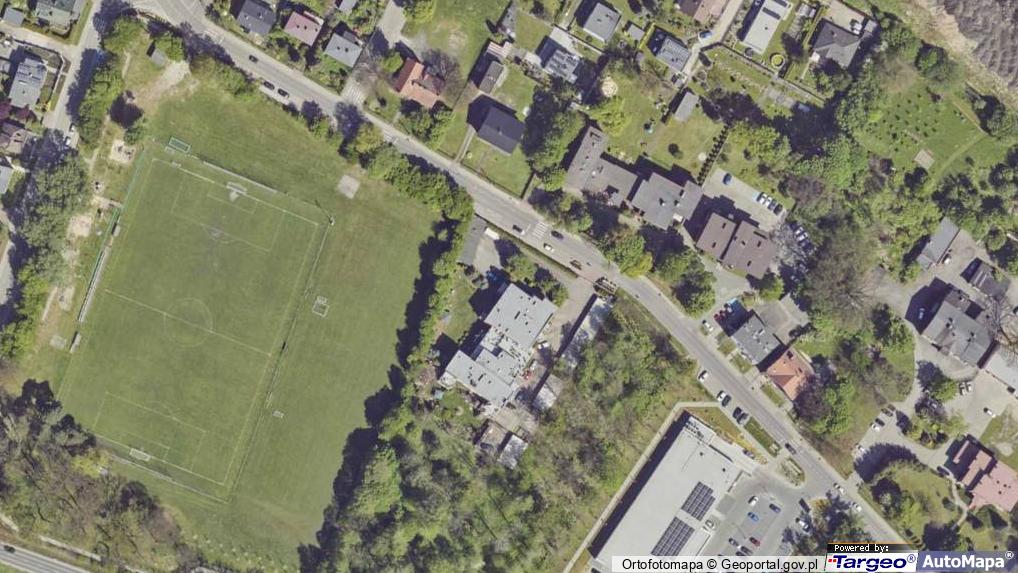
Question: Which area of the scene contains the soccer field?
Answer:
left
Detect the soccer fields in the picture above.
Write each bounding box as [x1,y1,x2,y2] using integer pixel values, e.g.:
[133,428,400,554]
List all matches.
[57,153,324,489]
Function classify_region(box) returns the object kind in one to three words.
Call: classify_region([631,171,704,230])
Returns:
building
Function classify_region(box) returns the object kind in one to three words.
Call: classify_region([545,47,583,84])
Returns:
house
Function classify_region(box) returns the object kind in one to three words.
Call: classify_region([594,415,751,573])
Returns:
building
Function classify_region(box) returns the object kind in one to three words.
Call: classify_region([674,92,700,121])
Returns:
shed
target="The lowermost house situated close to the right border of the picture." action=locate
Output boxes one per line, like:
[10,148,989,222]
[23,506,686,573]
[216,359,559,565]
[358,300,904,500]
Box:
[949,441,1018,514]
